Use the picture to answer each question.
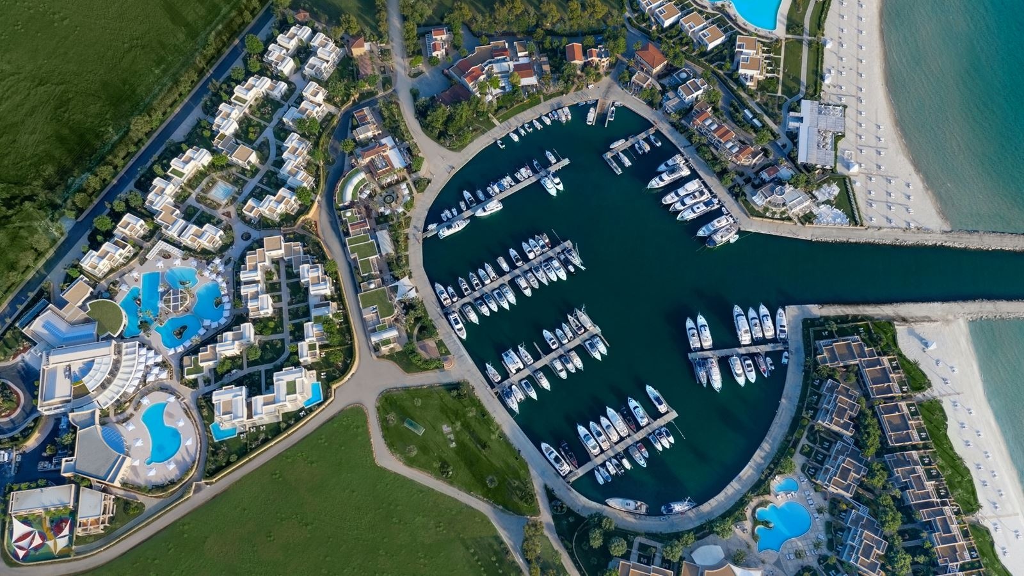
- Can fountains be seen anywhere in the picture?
Yes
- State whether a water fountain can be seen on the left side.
Yes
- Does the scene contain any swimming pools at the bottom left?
Yes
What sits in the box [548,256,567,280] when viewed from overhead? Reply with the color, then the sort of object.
white boat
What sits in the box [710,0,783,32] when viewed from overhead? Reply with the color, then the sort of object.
blue swimming pool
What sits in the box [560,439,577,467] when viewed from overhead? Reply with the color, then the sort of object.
black boat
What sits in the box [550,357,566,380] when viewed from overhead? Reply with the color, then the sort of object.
white boat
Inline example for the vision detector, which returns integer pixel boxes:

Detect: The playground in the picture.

[9,511,75,561]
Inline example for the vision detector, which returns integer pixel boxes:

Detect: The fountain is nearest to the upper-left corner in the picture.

[208,179,237,203]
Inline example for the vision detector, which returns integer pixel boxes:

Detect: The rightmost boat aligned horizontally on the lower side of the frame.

[661,499,697,515]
